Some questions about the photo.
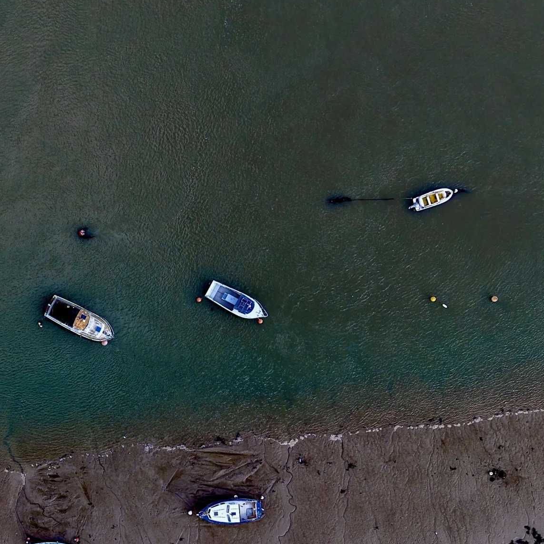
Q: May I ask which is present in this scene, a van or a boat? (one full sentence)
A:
The one in the frame is a boat.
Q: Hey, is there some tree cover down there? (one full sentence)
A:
No, tree cover can't be seen anywhere here.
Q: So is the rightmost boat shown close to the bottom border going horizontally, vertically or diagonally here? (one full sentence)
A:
I'd say the rightmost boat shown close to the bottom border is aligned horizontally in the picture.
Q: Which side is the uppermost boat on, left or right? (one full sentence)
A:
It is on the right.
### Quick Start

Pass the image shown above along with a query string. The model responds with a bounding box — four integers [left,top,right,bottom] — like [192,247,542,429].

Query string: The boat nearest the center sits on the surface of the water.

[205,281,268,318]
